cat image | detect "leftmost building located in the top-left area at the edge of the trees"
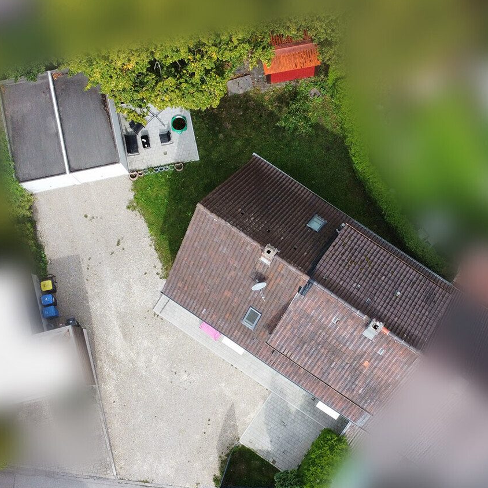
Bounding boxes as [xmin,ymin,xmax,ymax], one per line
[0,64,130,193]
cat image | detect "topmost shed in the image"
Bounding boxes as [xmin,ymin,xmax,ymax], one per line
[259,31,321,84]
